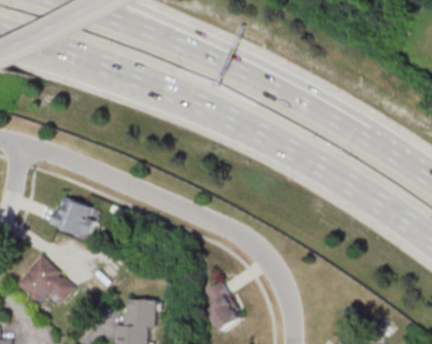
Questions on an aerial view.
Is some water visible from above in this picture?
No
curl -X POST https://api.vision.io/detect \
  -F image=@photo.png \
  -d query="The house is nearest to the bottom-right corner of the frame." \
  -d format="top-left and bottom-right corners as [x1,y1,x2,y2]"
[204,282,244,328]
